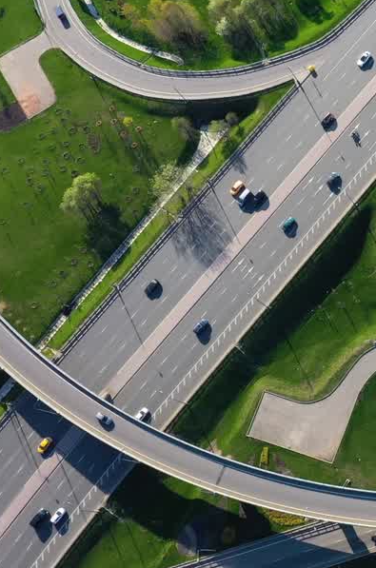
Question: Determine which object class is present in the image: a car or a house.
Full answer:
This aerial view contains a car.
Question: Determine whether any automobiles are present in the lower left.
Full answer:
Yes, an automobile can be seen in the lower left.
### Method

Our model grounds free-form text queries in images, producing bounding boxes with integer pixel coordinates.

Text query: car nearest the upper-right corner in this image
[355,50,372,68]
